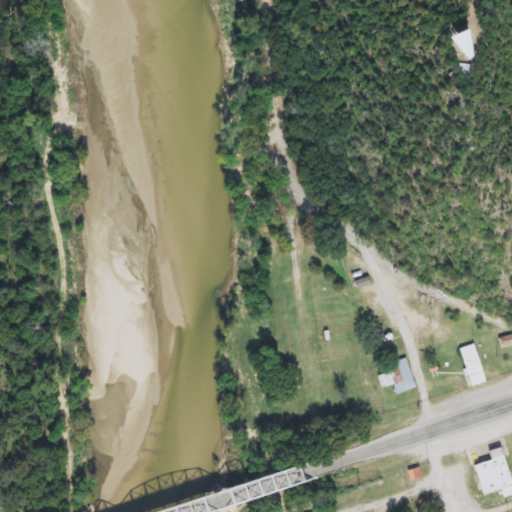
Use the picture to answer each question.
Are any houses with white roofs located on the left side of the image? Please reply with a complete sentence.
No, no house with a white roof is visible on the left side of the image.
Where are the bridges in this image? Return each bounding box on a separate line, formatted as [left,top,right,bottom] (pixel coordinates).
[162,460,328,512]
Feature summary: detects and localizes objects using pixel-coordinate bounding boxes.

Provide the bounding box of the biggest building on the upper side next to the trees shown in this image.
[452,28,476,58]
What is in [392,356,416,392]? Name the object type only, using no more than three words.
house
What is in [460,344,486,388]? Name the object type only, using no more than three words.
house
